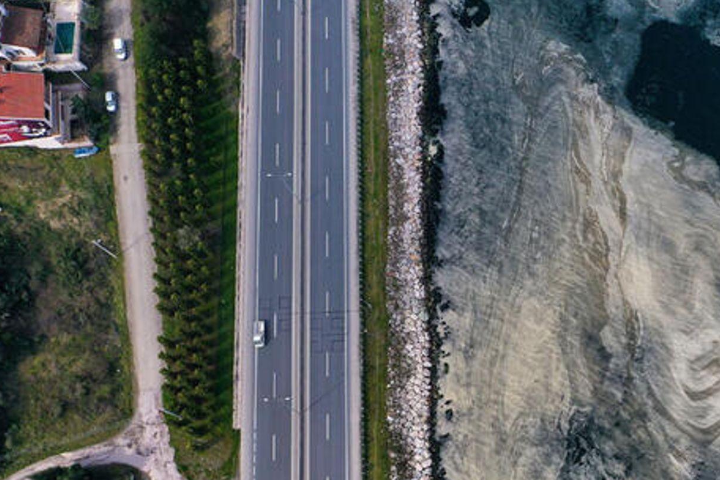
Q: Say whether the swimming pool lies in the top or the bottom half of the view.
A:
top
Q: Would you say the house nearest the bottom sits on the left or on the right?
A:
left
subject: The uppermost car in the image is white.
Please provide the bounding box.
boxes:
[114,37,127,58]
